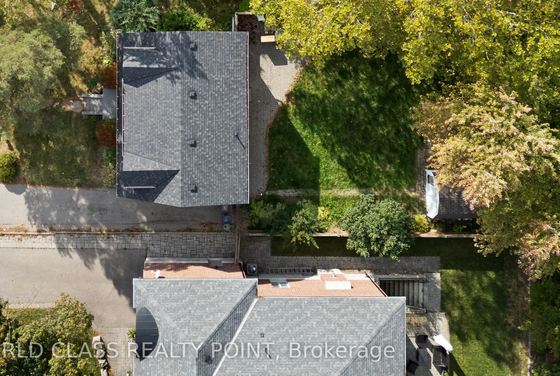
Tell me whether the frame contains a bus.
No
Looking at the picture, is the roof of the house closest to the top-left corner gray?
Yes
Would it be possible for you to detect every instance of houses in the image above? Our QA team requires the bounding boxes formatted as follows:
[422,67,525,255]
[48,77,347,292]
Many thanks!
[131,256,408,376]
[83,30,251,207]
